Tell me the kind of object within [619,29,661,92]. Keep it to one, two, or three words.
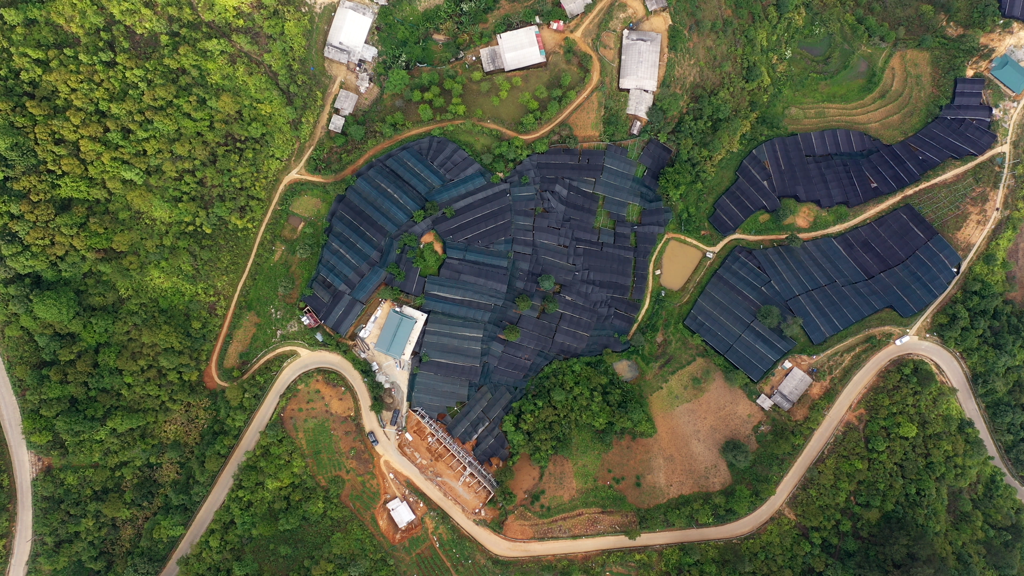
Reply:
house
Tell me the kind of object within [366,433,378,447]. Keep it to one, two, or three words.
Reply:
vehicle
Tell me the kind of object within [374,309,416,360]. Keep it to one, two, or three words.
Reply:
house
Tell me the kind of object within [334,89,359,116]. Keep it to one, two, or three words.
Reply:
barn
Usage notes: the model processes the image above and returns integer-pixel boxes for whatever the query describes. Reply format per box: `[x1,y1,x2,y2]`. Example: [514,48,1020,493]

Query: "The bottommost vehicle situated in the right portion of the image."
[896,334,913,346]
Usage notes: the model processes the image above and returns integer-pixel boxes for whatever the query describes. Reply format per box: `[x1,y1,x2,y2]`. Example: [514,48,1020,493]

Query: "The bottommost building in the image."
[386,497,415,528]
